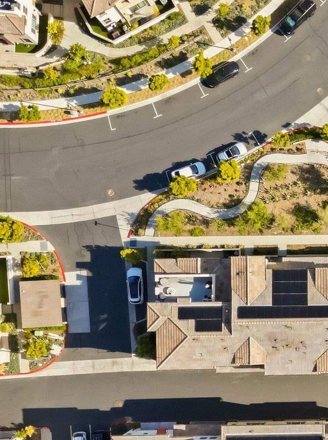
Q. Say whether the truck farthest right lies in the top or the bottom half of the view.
top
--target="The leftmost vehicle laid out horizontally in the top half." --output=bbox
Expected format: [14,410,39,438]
[171,159,206,179]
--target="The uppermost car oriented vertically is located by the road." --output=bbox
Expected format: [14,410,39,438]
[126,268,143,304]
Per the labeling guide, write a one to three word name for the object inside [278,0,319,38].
truck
